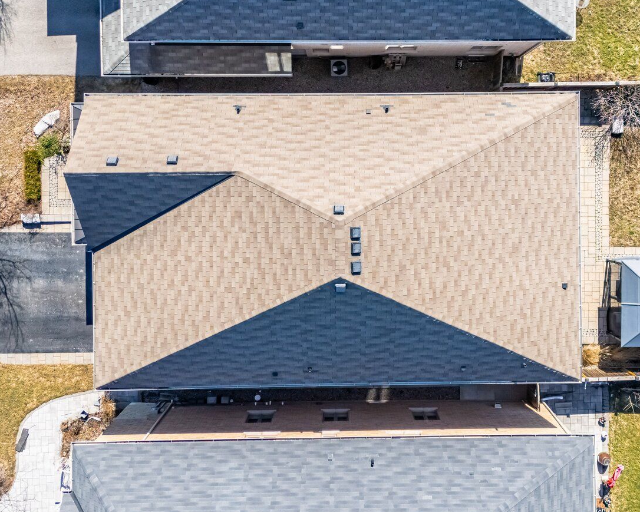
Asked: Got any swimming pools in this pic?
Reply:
No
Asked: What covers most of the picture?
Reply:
buildings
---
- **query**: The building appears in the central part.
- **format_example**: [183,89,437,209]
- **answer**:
[62,88,585,394]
